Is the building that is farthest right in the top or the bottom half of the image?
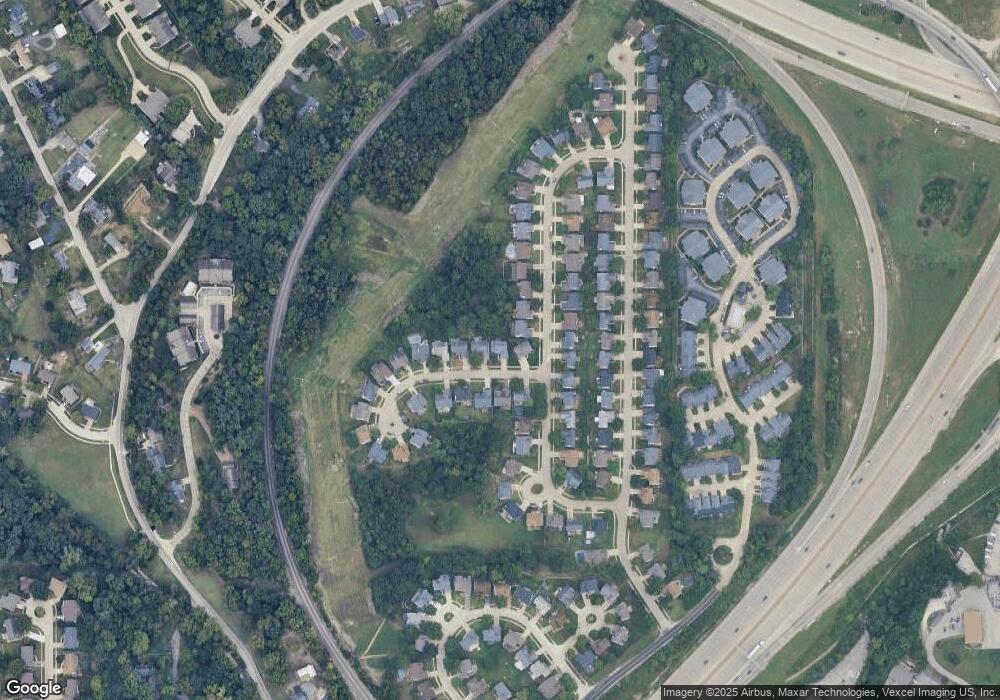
bottom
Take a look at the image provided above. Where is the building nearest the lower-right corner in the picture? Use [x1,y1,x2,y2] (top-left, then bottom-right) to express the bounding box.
[964,611,983,643]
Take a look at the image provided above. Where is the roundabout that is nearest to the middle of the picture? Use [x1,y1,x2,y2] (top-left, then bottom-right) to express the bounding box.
[520,473,553,506]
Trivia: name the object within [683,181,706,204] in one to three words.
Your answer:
building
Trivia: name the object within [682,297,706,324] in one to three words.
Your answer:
building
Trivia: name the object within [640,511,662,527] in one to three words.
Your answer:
house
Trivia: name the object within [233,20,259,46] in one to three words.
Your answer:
house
